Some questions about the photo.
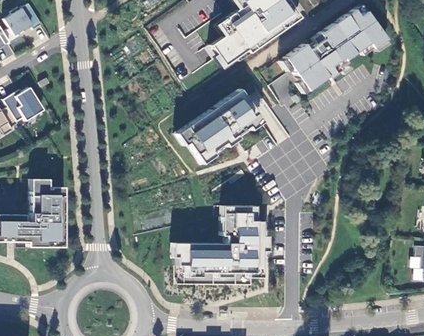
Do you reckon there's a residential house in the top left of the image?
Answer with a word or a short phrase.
Yes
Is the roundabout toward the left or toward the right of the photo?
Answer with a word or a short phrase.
left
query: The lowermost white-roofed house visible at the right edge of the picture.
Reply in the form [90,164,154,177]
[408,246,424,283]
